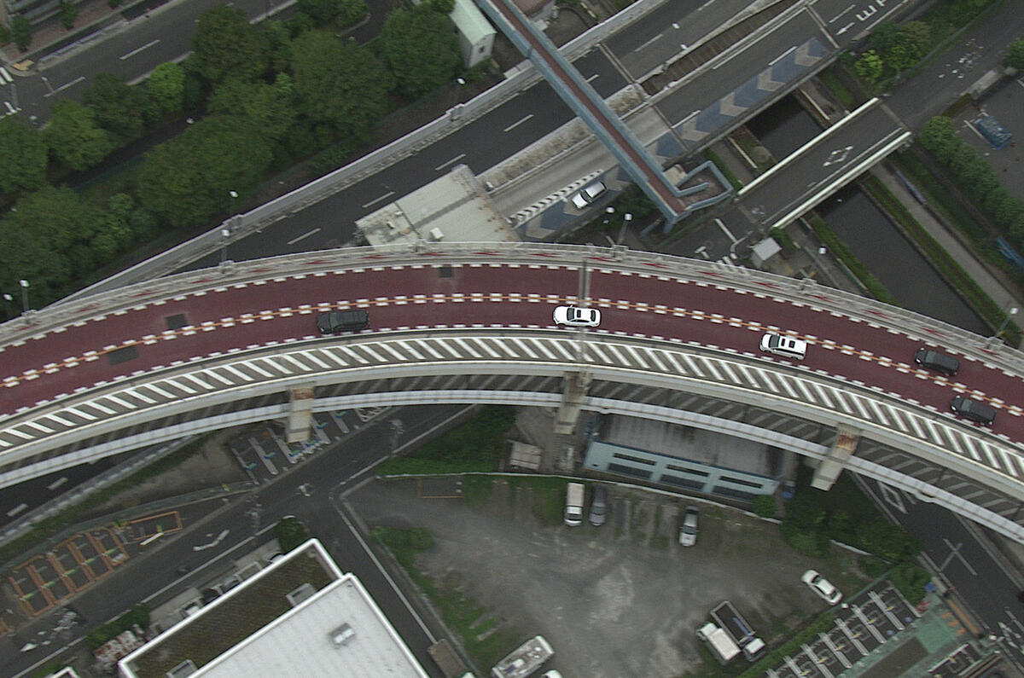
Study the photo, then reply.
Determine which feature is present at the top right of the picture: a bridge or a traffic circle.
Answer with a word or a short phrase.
bridge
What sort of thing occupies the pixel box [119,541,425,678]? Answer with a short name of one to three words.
building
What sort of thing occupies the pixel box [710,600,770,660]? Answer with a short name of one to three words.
truck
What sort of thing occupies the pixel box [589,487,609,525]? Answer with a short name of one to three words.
car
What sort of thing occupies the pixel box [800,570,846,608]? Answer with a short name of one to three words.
car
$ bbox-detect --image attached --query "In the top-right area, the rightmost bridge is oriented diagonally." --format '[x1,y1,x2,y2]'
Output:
[738,99,913,234]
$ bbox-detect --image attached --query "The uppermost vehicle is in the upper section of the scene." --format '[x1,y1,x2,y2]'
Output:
[571,177,610,209]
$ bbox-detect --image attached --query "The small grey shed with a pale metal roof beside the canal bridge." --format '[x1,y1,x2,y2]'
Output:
[751,237,783,269]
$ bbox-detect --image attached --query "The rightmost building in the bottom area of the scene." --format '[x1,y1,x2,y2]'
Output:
[584,409,783,504]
